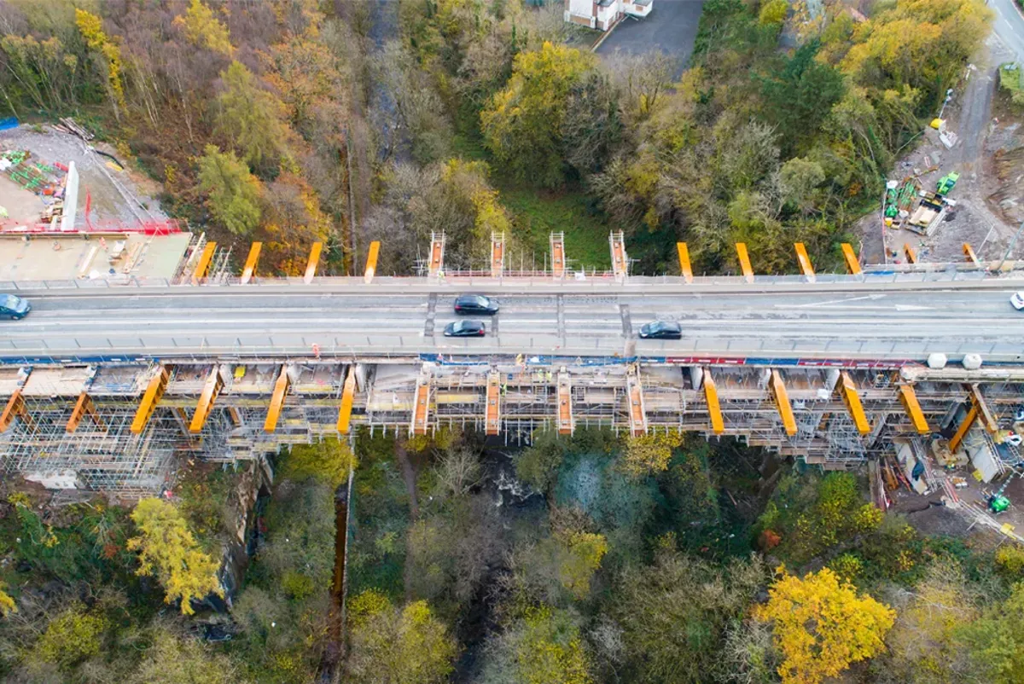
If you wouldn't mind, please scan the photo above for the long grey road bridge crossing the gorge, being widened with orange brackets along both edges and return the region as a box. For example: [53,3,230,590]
[0,282,1024,453]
